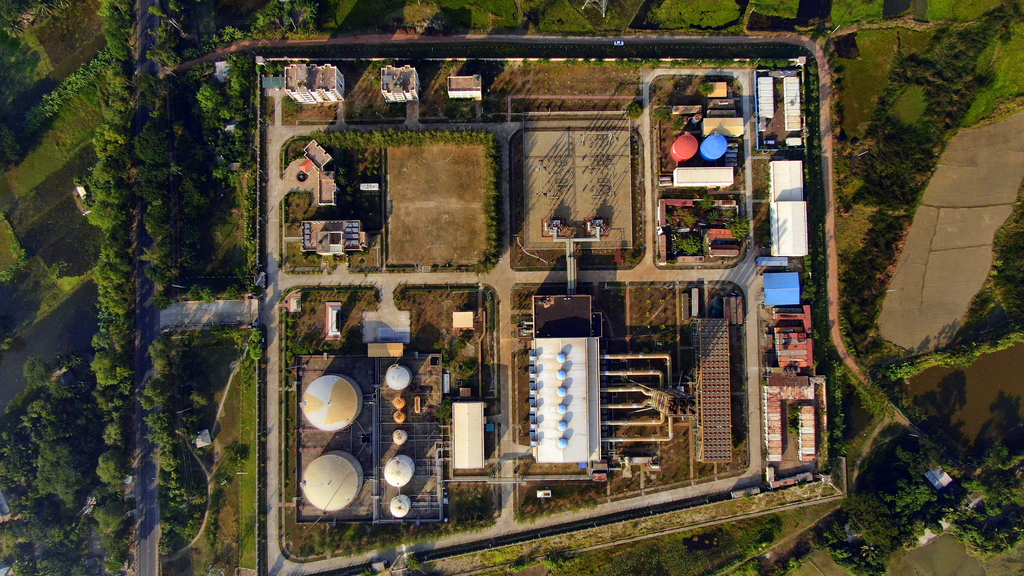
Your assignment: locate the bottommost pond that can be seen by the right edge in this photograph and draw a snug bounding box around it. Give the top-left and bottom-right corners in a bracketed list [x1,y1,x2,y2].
[900,341,1024,447]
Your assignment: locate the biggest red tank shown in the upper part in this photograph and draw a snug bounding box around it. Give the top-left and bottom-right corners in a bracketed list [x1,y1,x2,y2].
[671,130,699,168]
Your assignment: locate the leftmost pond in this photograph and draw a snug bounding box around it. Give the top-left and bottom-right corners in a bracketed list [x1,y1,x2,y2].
[0,277,100,412]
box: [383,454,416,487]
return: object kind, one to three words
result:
storage tank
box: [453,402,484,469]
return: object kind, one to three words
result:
building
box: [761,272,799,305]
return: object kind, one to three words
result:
shed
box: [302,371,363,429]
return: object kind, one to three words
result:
storage tank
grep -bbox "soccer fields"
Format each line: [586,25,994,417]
[386,143,490,266]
